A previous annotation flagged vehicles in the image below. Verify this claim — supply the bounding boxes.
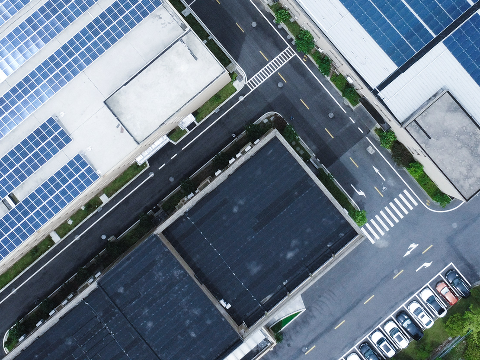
[444,268,472,299]
[434,280,459,308]
[384,321,412,352]
[409,299,437,331]
[396,310,424,342]
[421,290,449,321]
[348,354,363,360]
[360,343,384,360]
[372,332,401,360]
